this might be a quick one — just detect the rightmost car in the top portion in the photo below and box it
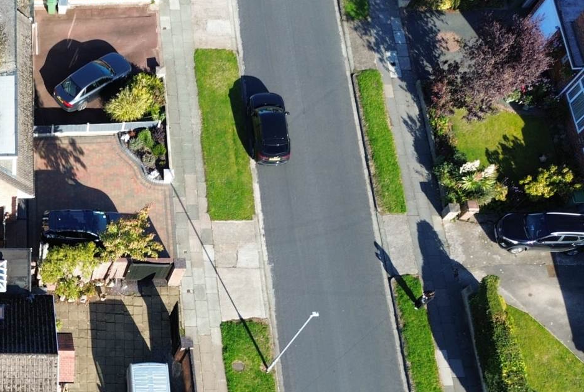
[244,94,293,168]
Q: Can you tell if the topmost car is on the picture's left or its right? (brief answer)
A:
left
